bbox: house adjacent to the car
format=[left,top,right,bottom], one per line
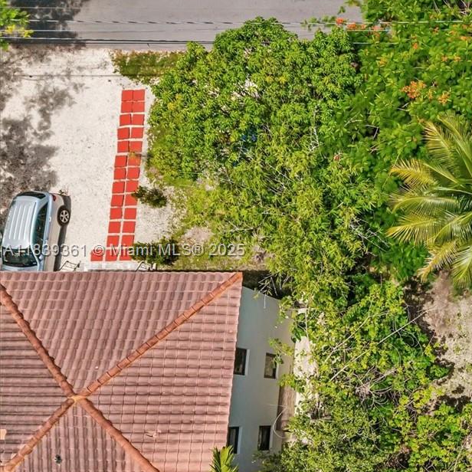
[0,268,294,472]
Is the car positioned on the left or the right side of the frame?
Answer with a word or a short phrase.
left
